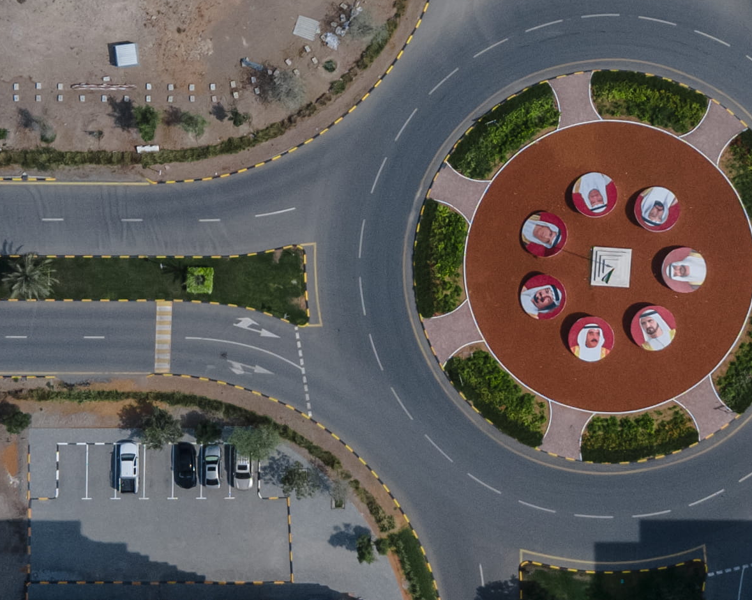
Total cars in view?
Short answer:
four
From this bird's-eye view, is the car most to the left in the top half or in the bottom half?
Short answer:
bottom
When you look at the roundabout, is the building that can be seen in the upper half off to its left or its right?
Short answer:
left of it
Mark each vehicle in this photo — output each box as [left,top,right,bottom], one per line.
[116,440,140,493]
[231,442,254,491]
[172,441,198,490]
[201,443,223,490]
